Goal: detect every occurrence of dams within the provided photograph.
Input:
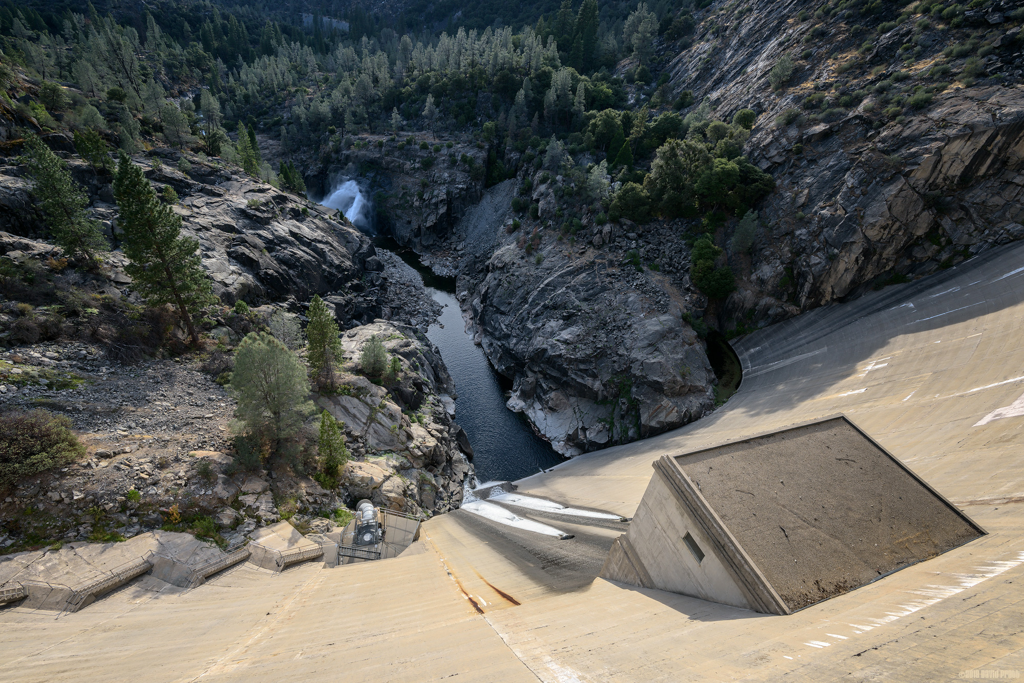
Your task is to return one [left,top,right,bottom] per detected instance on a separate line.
[0,236,1024,683]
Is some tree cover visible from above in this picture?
Yes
